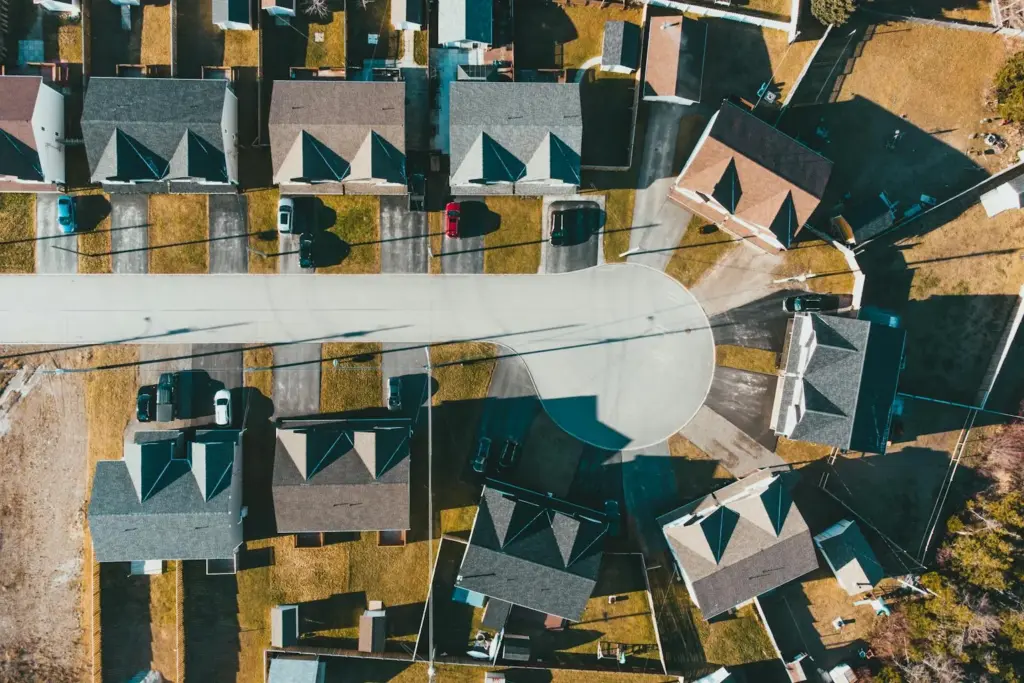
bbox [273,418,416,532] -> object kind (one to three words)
house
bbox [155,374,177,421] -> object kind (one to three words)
truck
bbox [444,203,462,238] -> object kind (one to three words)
car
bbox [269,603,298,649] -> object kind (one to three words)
shed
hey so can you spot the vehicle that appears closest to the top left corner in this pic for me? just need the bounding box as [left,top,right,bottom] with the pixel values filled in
[56,196,77,232]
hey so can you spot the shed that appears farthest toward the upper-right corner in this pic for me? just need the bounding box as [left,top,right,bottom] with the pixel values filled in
[980,173,1024,220]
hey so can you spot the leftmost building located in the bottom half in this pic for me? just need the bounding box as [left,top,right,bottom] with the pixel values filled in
[88,428,246,561]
